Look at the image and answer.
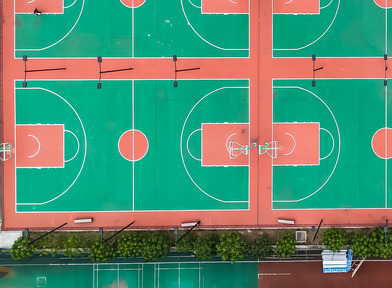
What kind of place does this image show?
sports ground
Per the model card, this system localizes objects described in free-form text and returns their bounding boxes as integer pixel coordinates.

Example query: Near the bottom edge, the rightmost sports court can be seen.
[155,265,204,288]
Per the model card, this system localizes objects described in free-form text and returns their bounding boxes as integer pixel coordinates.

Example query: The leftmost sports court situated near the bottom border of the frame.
[94,265,143,288]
